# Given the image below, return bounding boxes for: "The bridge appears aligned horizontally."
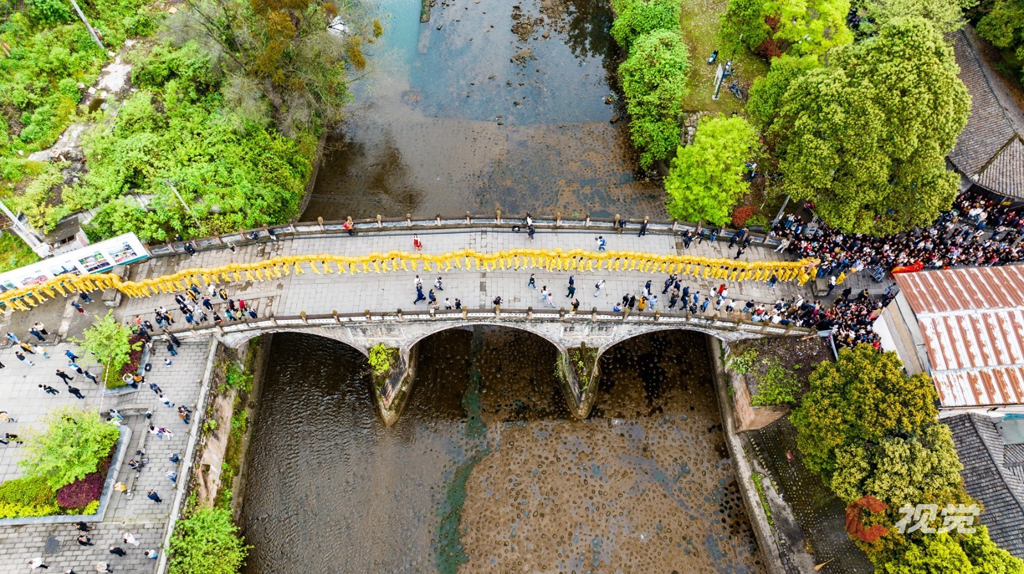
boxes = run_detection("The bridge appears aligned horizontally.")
[113,214,887,425]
